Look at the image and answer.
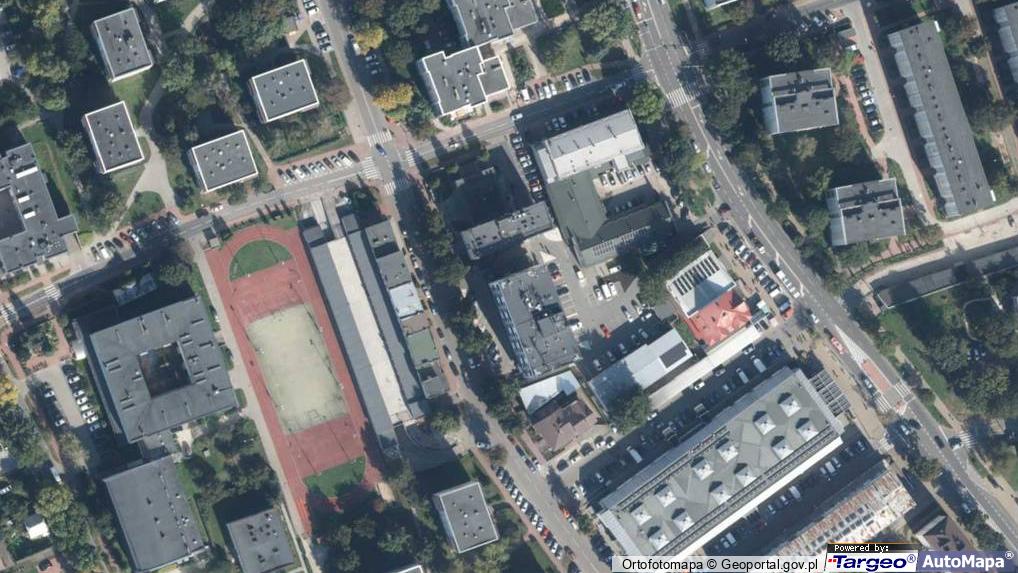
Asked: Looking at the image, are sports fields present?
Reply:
Yes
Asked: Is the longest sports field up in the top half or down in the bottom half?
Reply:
bottom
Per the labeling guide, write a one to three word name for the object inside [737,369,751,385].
vehicle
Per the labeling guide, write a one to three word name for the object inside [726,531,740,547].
vehicle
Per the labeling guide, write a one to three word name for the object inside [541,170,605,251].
building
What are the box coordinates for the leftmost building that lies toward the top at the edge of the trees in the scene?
[0,144,78,275]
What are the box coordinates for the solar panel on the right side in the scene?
[660,342,688,368]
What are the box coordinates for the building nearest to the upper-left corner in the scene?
[90,8,152,81]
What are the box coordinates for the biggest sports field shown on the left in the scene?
[205,224,383,529]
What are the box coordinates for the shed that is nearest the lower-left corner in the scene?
[24,512,49,541]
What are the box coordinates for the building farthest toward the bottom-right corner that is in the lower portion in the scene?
[923,525,972,573]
